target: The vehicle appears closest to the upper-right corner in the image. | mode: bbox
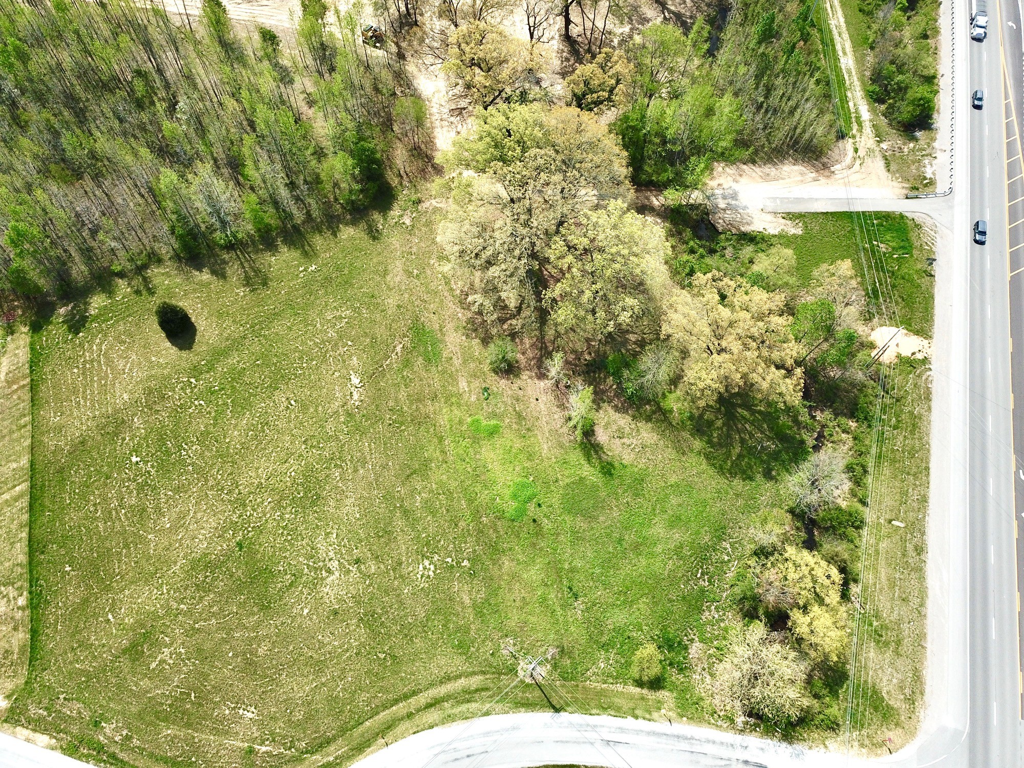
[972,0,992,40]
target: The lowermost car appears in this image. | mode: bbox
[974,218,988,242]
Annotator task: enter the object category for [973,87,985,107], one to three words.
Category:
vehicle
